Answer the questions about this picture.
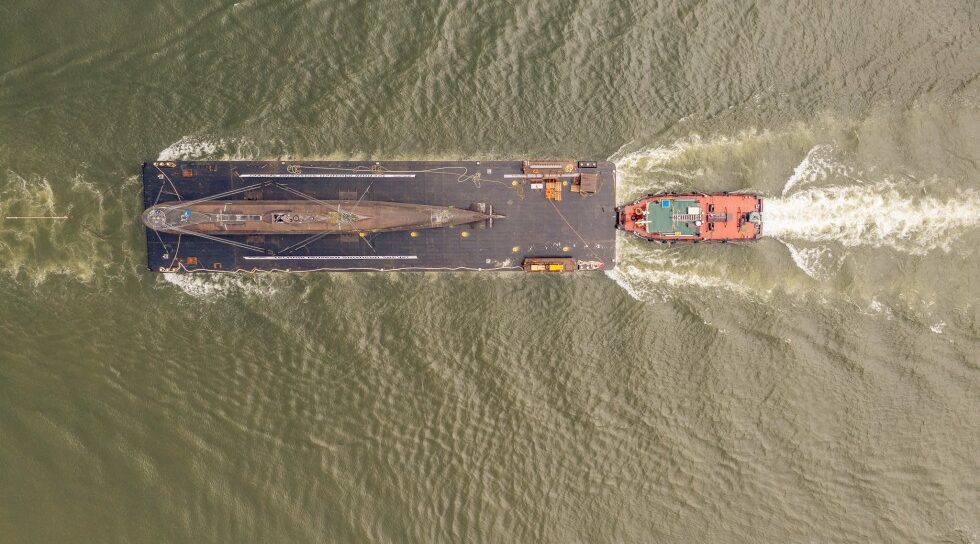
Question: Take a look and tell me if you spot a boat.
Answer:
Yes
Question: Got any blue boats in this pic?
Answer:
No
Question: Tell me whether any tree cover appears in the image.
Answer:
No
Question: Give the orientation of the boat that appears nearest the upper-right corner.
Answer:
from left to right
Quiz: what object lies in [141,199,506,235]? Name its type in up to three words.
ship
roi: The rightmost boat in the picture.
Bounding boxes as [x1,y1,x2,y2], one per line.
[614,192,763,243]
